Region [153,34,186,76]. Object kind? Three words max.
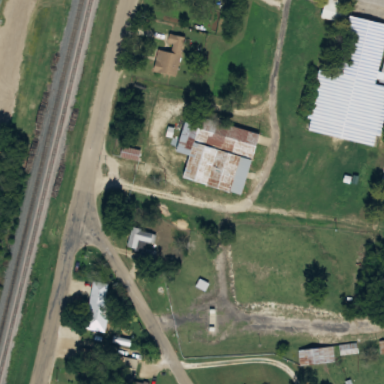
house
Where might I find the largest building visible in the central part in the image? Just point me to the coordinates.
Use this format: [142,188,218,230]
[176,116,260,196]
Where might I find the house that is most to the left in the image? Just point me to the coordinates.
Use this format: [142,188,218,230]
[86,282,108,331]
